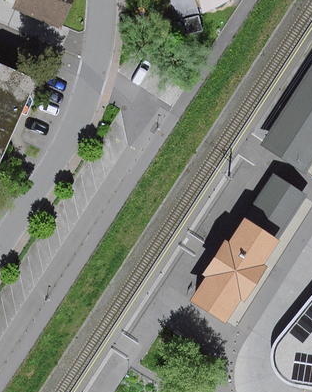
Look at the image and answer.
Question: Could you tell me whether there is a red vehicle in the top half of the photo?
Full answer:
No, the scene shows no red vehicle in the top half of the photo.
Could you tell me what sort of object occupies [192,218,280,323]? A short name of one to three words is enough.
house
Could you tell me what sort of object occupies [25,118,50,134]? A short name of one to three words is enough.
car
